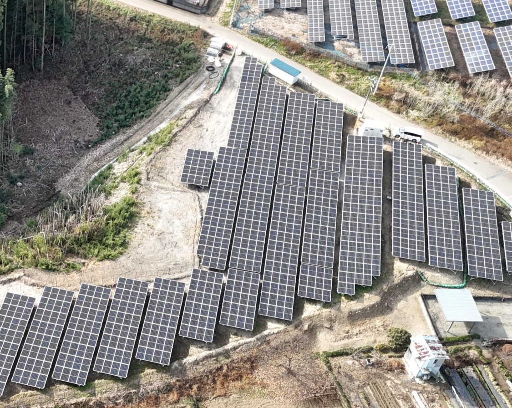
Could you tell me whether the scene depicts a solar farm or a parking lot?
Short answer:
solar farm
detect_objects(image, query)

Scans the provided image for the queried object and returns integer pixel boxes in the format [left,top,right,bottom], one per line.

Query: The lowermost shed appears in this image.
[407,327,459,383]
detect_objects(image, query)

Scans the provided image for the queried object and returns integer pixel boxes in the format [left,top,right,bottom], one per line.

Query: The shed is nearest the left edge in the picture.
[269,55,304,84]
